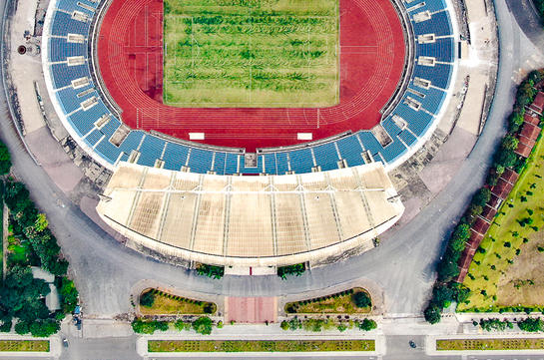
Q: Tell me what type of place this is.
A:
sports ground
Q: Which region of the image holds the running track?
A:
top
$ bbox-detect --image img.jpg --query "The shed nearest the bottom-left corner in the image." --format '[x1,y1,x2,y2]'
[46,282,60,311]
